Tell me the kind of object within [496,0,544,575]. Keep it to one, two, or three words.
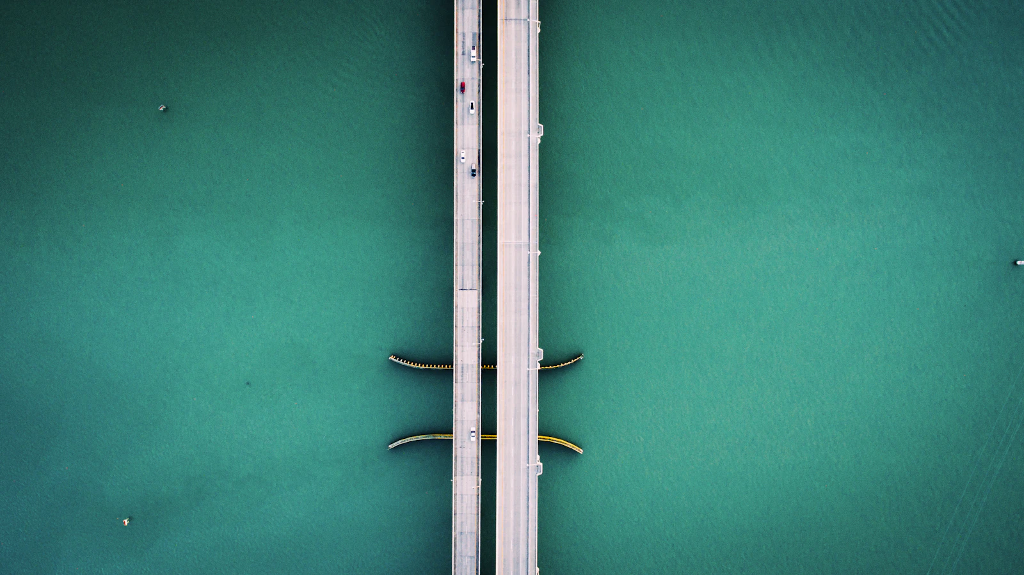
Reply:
bridge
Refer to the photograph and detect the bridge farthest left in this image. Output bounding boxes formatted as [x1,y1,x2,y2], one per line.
[452,0,482,575]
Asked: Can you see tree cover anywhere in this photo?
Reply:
No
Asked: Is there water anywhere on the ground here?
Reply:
Yes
